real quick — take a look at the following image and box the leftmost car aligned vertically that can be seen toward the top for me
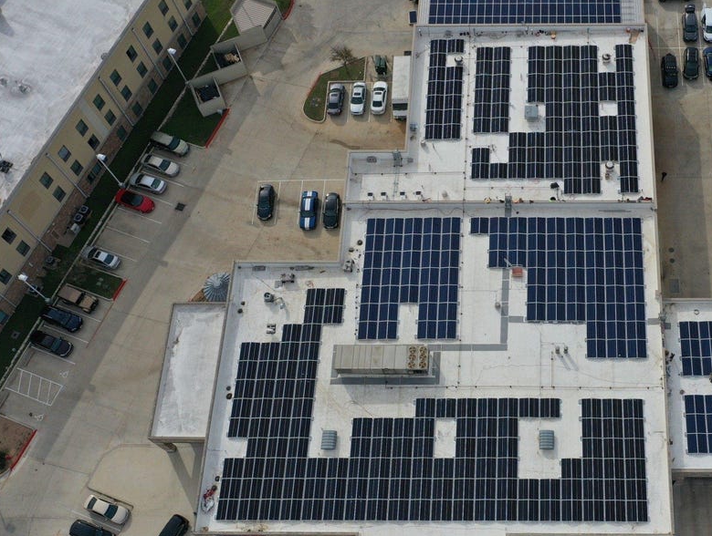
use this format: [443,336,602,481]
[255,183,275,222]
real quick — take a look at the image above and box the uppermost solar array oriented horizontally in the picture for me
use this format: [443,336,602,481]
[428,0,621,25]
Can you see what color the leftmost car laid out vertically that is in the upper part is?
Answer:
black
